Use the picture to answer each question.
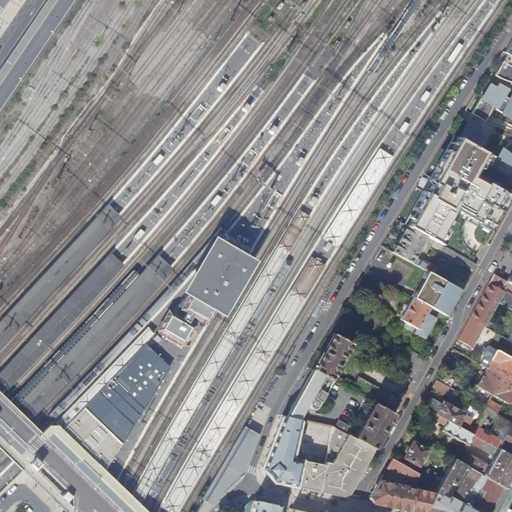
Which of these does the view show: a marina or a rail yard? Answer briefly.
rail yard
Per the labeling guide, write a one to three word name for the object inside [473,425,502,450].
house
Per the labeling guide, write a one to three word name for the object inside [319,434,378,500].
building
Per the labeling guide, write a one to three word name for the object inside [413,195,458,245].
building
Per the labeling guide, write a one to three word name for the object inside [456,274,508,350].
house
